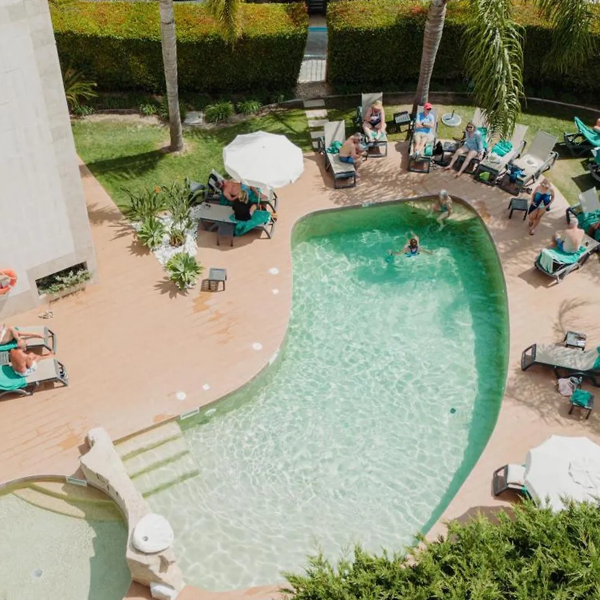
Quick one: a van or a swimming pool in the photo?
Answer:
swimming pool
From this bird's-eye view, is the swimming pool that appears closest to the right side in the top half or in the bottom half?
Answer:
bottom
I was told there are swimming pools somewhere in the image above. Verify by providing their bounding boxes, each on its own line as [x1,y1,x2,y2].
[114,193,513,595]
[0,472,132,600]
